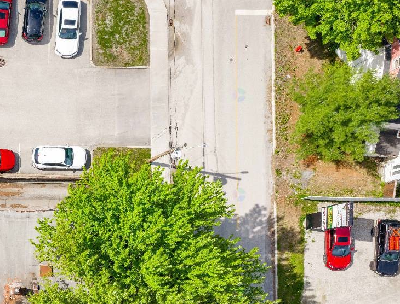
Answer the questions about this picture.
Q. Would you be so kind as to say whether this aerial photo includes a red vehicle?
Yes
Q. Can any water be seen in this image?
No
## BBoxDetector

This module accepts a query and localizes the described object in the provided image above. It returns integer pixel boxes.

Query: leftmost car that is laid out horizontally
[31,143,86,170]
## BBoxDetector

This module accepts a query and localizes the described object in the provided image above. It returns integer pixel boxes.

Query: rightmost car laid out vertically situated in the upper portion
[52,0,81,59]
